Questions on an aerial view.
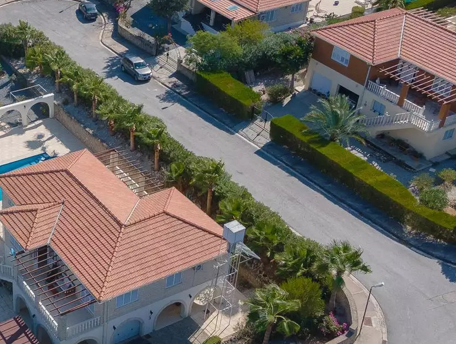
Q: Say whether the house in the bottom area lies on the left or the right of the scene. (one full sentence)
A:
The house in the bottom area sits on the left side.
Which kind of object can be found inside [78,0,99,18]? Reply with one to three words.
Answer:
car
